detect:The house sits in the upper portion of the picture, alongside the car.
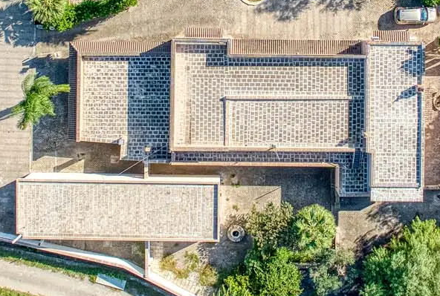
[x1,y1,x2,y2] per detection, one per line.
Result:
[69,27,425,201]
